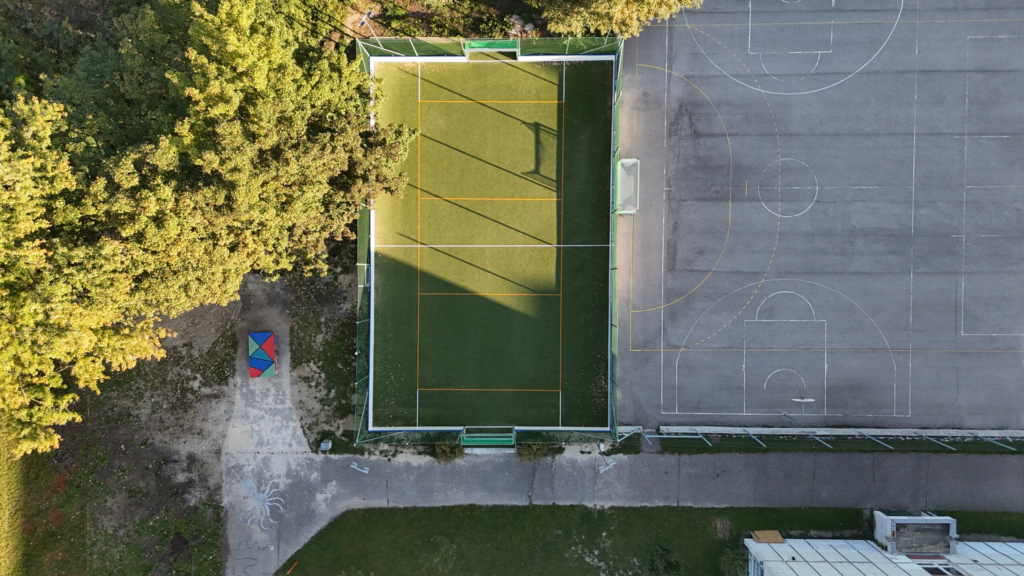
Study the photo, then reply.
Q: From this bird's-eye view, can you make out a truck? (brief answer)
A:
No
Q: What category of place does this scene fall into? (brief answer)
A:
sports ground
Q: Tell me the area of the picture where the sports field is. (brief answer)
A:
center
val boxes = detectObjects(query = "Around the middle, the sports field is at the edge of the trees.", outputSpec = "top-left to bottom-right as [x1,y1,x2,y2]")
[373,48,613,447]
